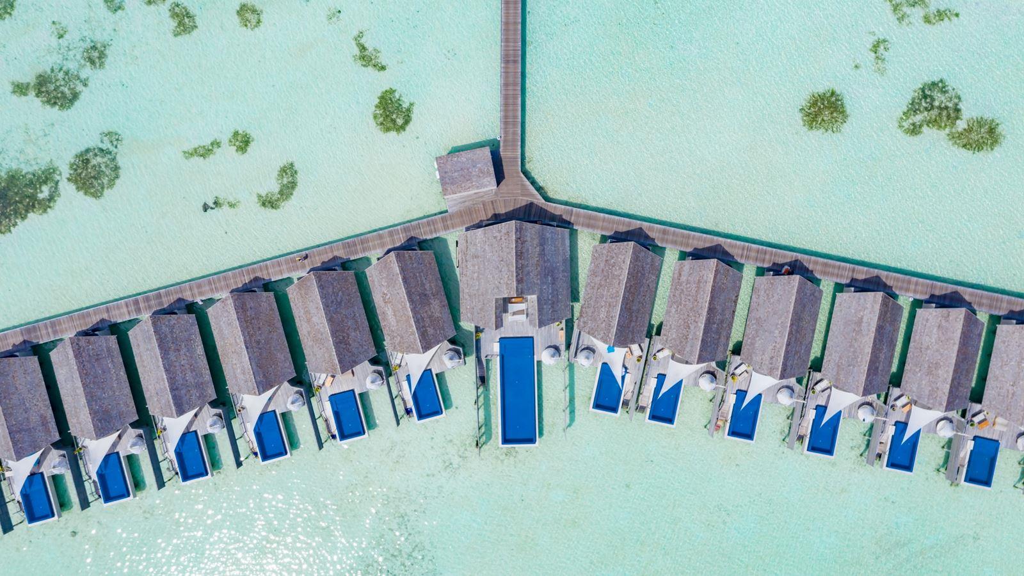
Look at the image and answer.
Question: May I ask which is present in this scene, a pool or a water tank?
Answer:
pool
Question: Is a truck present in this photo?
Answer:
No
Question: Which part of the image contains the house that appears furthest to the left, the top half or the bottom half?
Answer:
bottom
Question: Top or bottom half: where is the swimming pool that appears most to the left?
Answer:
bottom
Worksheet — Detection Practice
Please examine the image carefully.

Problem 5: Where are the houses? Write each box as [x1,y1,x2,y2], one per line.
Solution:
[876,300,984,461]
[796,285,904,446]
[287,262,386,436]
[366,242,465,416]
[0,344,82,515]
[716,269,823,429]
[207,282,308,456]
[572,236,662,408]
[128,303,229,477]
[51,324,158,497]
[457,220,571,381]
[957,316,1024,468]
[637,254,743,412]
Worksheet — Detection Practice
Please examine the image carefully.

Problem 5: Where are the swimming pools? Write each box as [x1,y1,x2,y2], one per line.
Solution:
[955,436,999,490]
[17,471,64,526]
[494,336,538,447]
[96,451,141,506]
[721,389,763,443]
[644,374,684,428]
[403,369,448,424]
[247,409,294,464]
[173,430,217,485]
[800,405,842,459]
[877,420,920,474]
[591,362,634,416]
[326,389,372,444]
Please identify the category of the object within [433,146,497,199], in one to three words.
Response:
building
